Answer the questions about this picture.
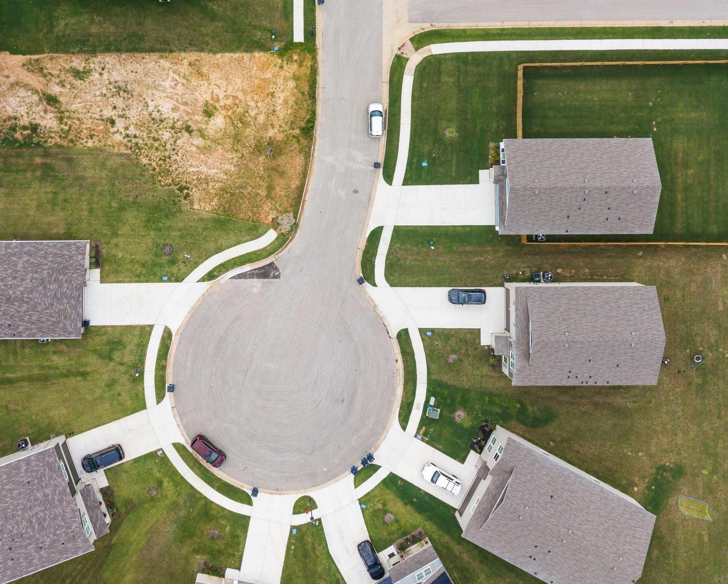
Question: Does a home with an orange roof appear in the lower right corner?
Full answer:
No, I can find no home with an orange roof in the lower right corner.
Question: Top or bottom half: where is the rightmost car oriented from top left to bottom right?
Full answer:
Seen from above, the rightmost car oriented from top left to bottom right lies in the bottom half of the view.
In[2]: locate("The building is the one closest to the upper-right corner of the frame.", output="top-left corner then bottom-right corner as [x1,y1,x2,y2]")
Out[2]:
[489,138,662,235]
